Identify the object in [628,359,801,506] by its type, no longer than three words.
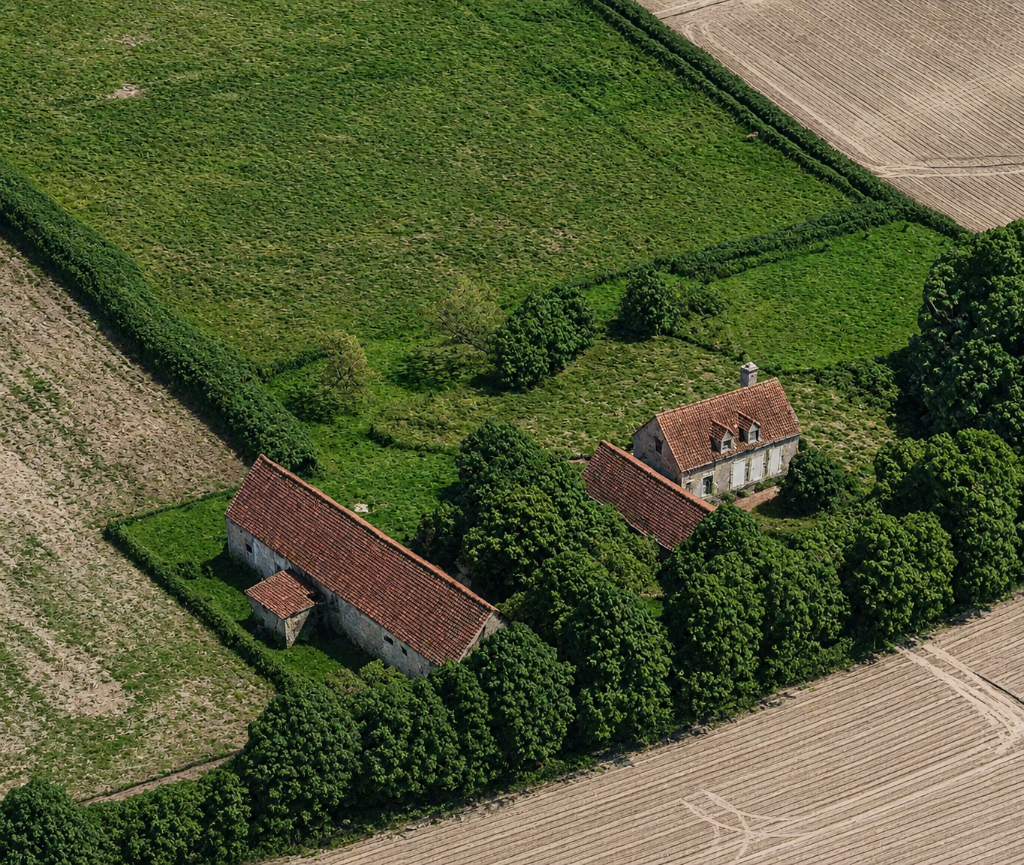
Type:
house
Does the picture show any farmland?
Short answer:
Yes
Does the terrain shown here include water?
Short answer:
No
